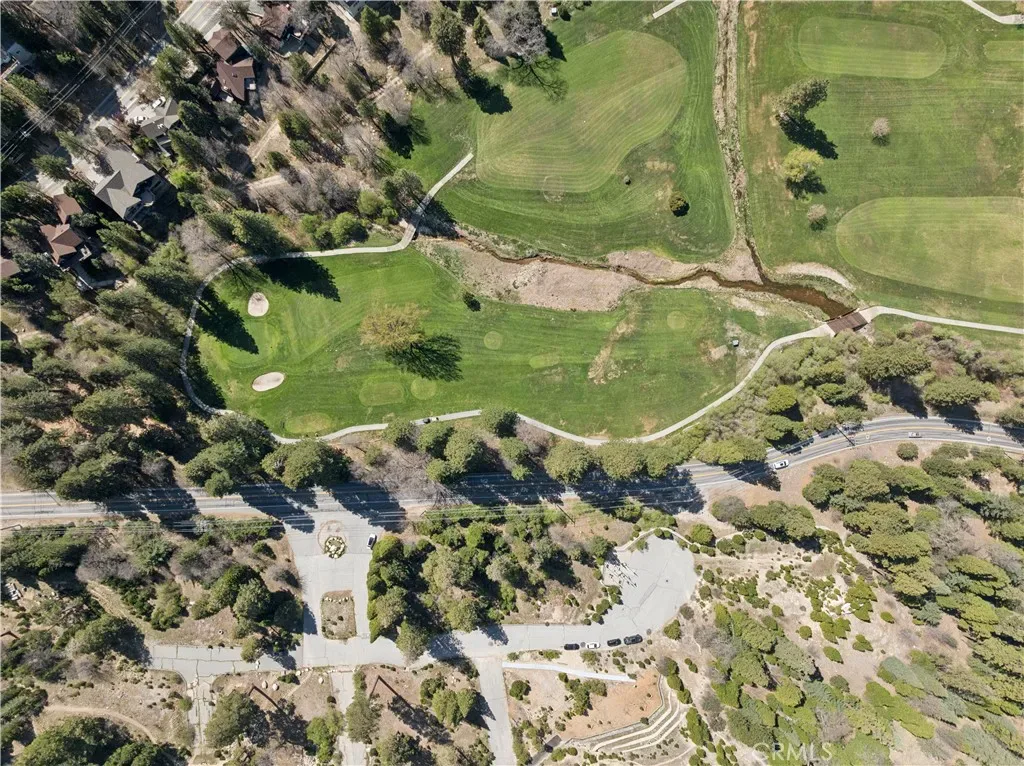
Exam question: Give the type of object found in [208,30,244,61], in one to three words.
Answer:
house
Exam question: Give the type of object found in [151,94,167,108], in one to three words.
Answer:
car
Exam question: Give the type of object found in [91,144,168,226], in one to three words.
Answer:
house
